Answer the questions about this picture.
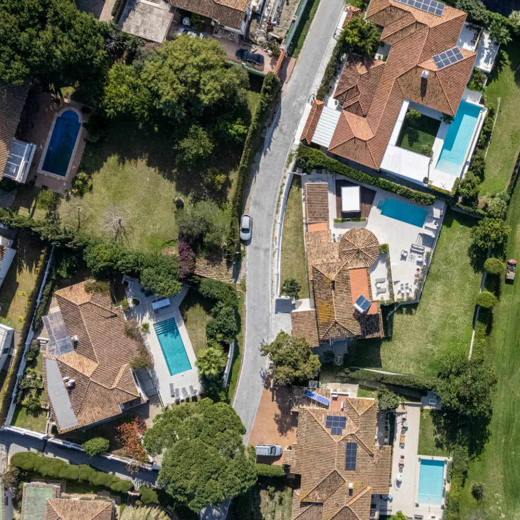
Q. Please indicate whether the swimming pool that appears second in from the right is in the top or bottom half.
bottom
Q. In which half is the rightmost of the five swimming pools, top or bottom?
top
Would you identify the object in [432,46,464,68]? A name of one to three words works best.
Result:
solar panel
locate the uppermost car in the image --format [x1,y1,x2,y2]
[178,26,206,43]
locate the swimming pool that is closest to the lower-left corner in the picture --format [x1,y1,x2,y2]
[152,316,194,378]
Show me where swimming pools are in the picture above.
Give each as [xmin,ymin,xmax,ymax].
[375,197,430,229]
[152,316,194,378]
[434,99,483,178]
[37,107,83,180]
[415,457,448,508]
